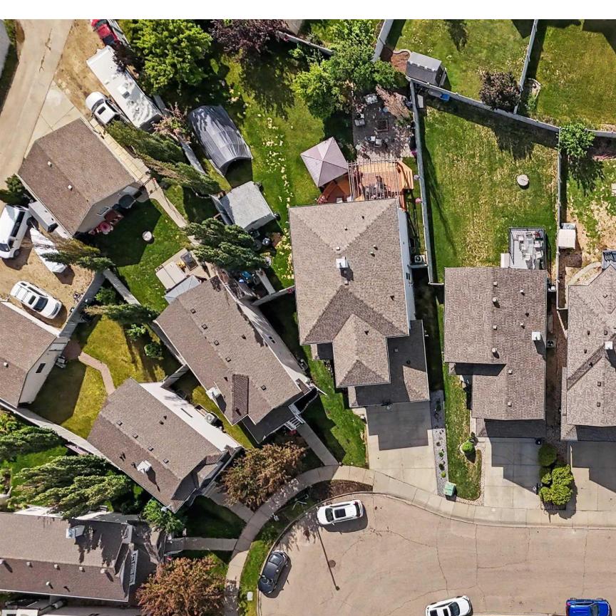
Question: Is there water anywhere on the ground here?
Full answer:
No, no water is visible.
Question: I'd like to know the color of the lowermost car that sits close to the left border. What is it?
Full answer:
The lowermost car that sits close to the left border looks white in the image.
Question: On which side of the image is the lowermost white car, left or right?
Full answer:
The lowermost white car appears in the right half of the scene.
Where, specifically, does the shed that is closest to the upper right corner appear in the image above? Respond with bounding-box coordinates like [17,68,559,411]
[405,50,443,88]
